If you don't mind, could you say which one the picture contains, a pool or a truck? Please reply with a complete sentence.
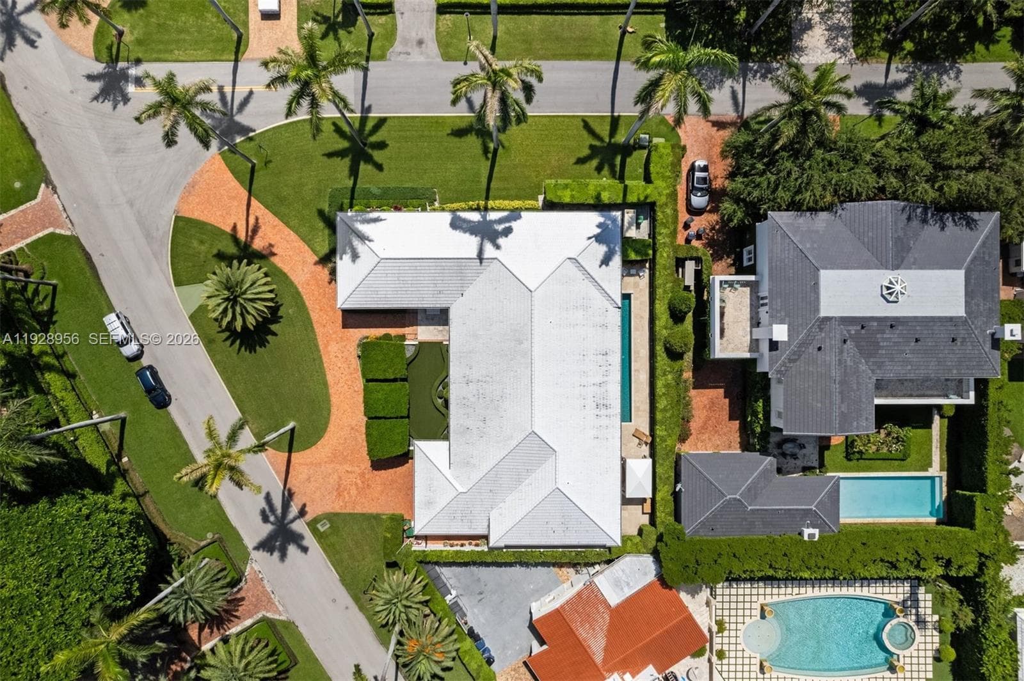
Looking from above, you can make out a pool.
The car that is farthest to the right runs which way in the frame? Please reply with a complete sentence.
I'd say the car that is farthest to the right is aligned from top to bottom in the picture.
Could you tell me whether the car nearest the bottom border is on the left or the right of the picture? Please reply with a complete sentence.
The car nearest the bottom border sits on the left side.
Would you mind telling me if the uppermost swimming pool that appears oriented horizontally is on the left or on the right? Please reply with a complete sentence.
The uppermost swimming pool that appears oriented horizontally is on the right side of the image.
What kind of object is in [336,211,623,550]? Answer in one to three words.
house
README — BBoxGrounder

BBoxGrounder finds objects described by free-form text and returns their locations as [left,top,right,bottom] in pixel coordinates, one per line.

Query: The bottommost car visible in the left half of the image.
[132,365,168,409]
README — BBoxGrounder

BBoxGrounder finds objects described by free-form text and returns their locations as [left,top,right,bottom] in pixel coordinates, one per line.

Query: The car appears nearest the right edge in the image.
[689,161,713,210]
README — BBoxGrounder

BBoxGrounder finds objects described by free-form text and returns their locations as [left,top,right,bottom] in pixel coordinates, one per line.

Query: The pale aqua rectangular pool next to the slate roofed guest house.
[840,475,945,521]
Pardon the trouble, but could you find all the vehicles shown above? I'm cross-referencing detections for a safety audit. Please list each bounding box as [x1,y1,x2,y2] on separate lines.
[689,161,713,210]
[254,0,279,15]
[98,309,141,359]
[132,365,168,409]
